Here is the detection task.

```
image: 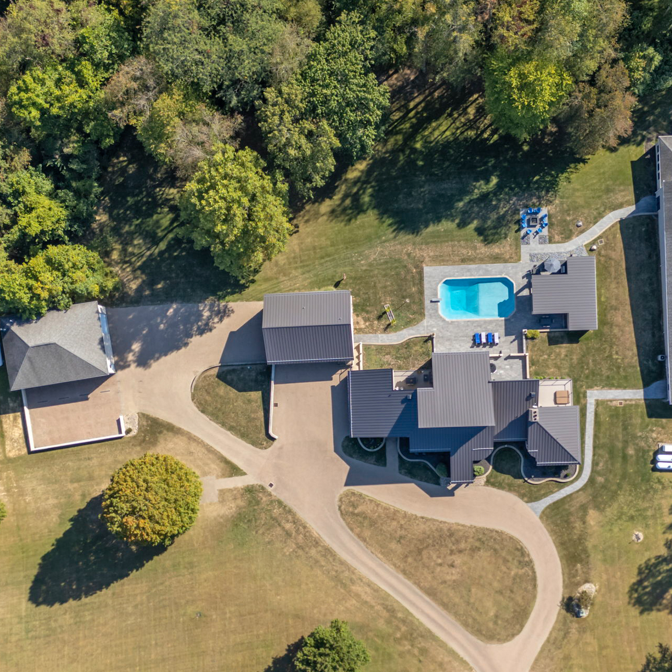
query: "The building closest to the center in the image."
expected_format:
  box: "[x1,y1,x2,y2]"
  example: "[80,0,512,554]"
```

[262,290,355,365]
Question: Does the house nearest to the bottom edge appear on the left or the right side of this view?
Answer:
right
